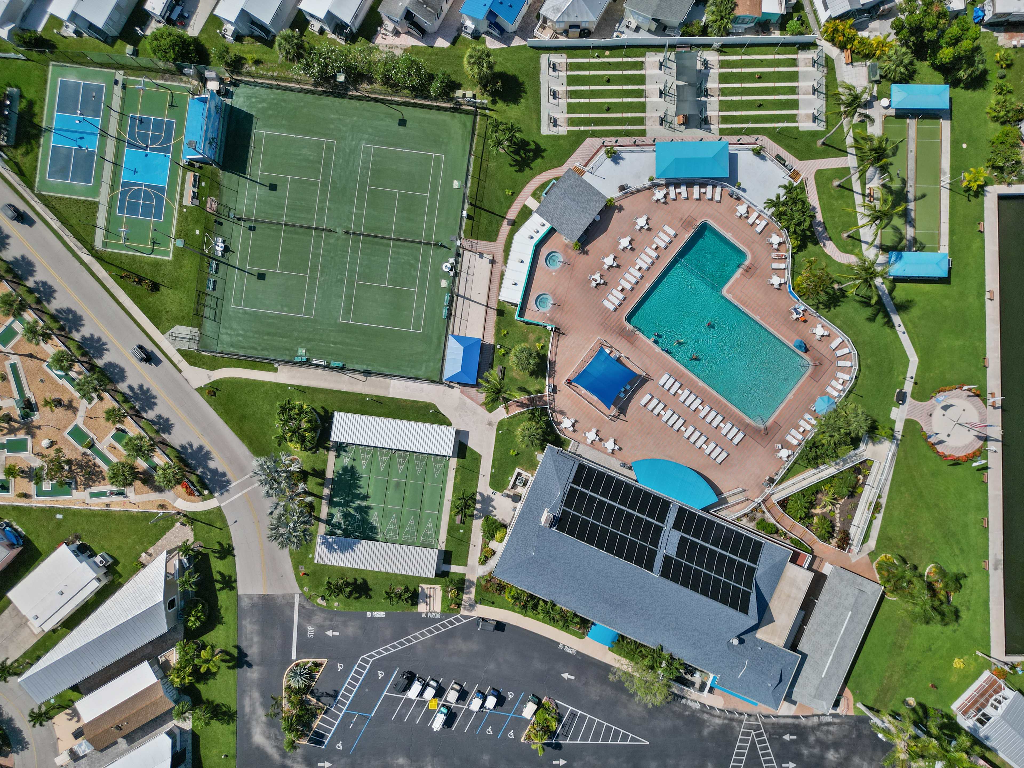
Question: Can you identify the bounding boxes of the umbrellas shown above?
[814,395,834,414]
[793,340,807,352]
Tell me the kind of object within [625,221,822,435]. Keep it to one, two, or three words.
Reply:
swimming pool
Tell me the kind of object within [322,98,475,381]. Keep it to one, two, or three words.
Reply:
tennis court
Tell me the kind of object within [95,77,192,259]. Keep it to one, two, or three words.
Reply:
sports court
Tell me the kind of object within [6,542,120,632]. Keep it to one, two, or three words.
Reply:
house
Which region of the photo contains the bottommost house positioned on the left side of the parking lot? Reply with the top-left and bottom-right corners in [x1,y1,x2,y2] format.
[105,725,181,768]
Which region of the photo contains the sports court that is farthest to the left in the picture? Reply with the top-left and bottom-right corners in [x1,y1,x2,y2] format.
[35,64,115,199]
